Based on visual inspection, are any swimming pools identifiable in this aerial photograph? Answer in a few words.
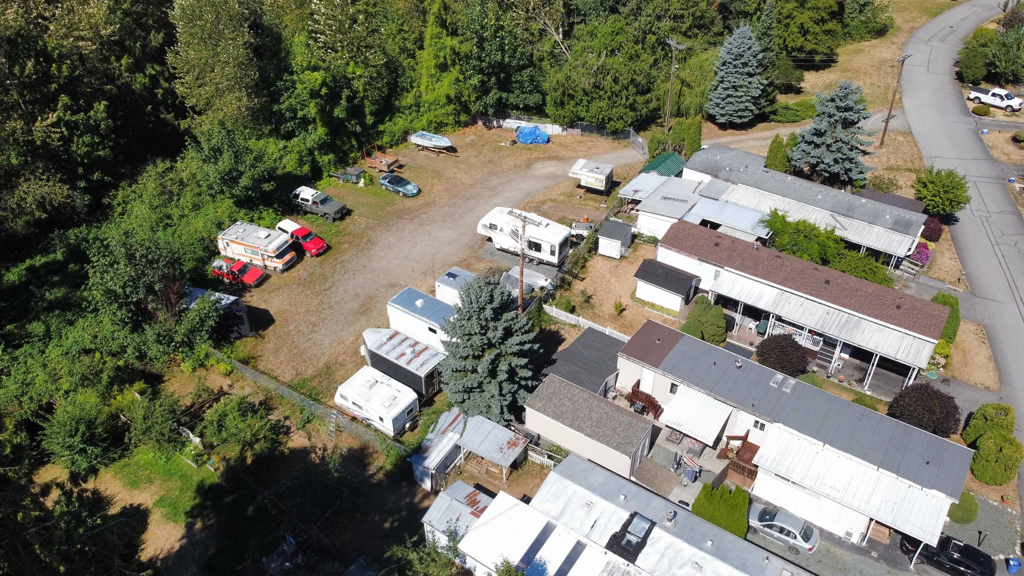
No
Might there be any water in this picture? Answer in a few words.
No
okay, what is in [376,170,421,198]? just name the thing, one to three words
car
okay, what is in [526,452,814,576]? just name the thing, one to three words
house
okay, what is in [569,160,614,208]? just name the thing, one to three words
camper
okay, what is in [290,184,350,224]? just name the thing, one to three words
truck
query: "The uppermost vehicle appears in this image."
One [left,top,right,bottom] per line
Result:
[965,87,1024,113]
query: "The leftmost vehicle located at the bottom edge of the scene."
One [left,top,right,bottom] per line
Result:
[740,502,823,560]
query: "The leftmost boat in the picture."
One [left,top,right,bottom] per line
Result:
[407,132,451,149]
